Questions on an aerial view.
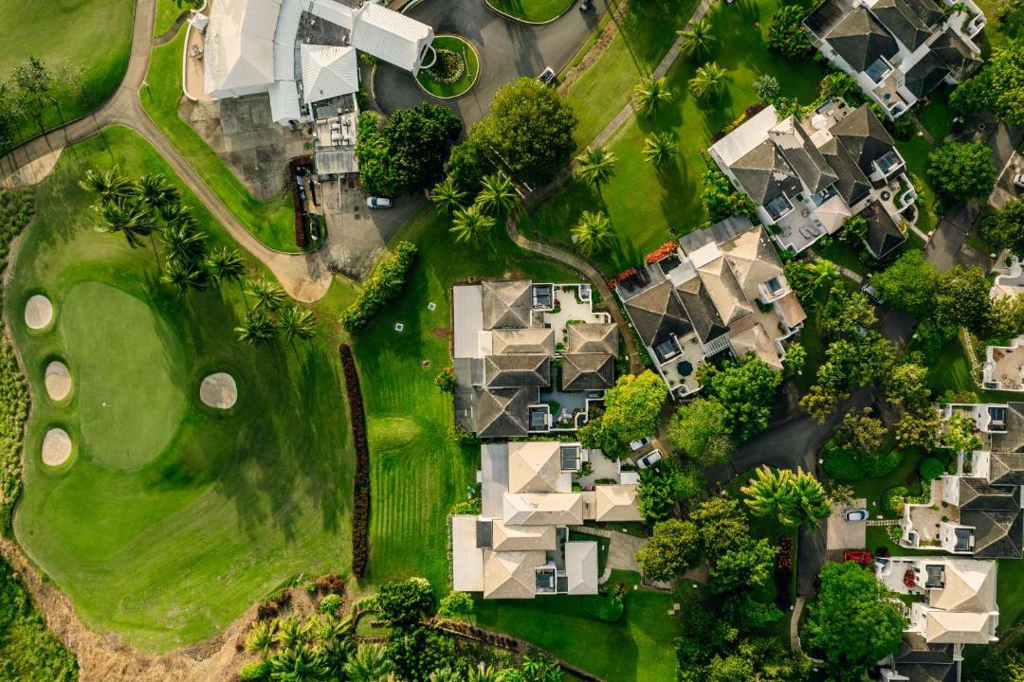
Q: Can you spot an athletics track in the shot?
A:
No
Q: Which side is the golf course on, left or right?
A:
left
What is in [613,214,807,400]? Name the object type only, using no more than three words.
house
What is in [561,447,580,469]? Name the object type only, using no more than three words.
solar panel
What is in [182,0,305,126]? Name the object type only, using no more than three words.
building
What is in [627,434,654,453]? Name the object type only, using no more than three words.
vehicle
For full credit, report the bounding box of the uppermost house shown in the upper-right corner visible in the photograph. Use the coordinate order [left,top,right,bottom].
[806,0,988,125]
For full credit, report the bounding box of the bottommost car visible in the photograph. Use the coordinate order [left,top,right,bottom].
[843,550,869,563]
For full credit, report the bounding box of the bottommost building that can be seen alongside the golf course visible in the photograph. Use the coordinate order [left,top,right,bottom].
[452,440,645,599]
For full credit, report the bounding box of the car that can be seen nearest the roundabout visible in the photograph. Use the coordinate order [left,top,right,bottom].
[545,66,558,79]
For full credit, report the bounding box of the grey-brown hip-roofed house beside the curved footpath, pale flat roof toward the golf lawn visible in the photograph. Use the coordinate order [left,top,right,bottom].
[453,280,619,438]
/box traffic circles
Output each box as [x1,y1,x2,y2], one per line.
[395,14,499,116]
